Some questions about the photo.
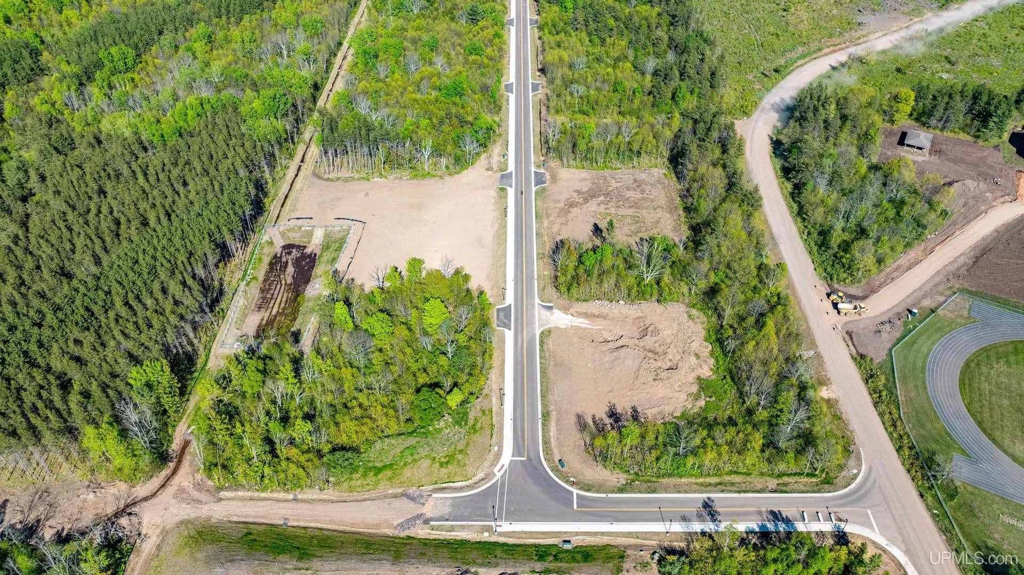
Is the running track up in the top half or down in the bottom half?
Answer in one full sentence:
The running track sits in the bottom half of the picture.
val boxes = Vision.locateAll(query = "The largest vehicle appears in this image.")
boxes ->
[839,301,871,314]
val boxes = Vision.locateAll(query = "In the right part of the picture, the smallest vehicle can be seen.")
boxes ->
[827,291,852,303]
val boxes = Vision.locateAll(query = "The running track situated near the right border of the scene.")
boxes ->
[922,298,1024,504]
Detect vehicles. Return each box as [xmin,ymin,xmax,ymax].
[839,301,871,314]
[827,291,852,303]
